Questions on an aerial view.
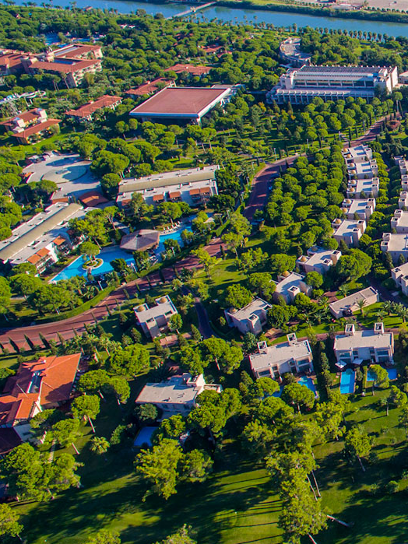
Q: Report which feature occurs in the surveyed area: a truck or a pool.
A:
pool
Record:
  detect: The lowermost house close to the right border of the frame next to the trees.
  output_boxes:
[332,325,395,364]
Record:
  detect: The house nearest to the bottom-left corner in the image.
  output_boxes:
[135,383,197,418]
